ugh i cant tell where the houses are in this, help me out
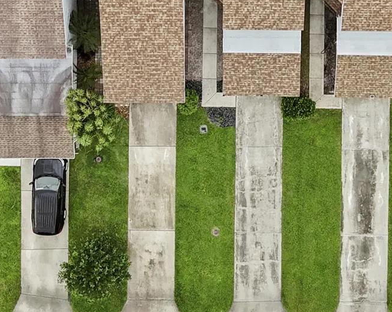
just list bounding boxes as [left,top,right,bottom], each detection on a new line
[0,0,76,159]
[220,0,305,98]
[99,0,186,104]
[318,0,392,99]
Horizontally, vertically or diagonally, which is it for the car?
vertically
